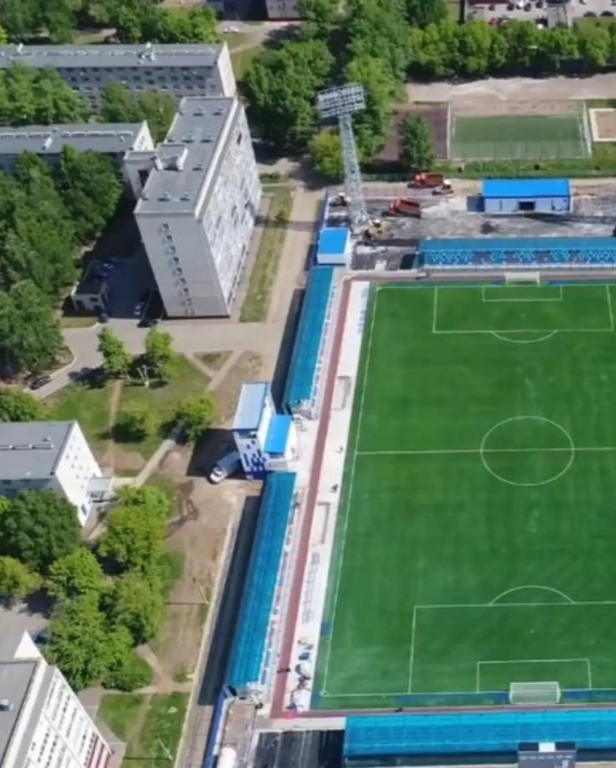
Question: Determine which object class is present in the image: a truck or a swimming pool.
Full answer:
The image shows a truck.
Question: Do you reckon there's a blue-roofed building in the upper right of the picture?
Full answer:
Yes, a blue-roofed building is visible in the upper right of the picture.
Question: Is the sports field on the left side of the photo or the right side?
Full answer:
It is on the right.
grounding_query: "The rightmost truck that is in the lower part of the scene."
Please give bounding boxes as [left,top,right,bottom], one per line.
[205,444,244,486]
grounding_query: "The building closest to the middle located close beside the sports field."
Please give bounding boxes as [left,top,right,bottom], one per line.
[233,383,309,475]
